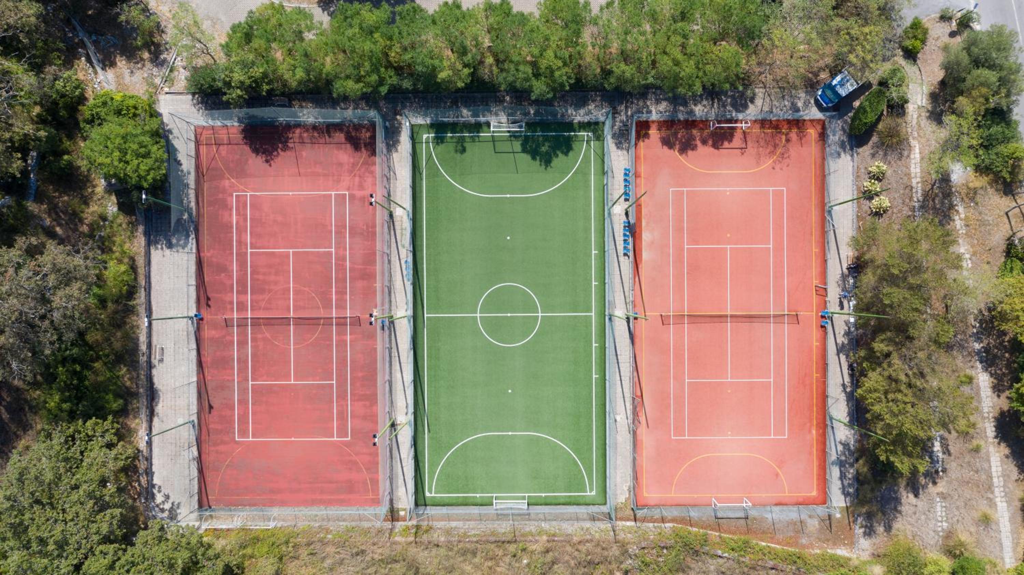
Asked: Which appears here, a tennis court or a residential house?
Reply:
tennis court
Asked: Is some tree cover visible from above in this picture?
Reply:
Yes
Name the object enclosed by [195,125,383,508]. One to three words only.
tennis court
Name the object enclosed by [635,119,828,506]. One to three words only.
tennis court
